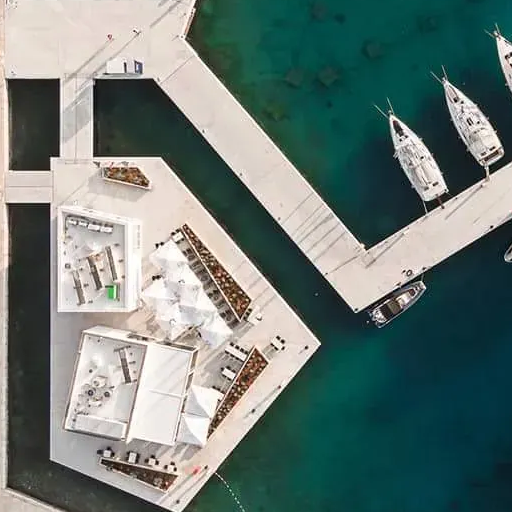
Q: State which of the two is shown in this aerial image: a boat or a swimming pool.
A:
boat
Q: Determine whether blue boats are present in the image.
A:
No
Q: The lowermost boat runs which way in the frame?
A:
on a diagonal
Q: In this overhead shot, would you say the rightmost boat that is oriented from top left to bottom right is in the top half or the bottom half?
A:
top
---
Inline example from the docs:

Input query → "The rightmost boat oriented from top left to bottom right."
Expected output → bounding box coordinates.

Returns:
[432,67,508,170]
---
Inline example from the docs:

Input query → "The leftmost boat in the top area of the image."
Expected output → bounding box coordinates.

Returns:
[381,101,454,214]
